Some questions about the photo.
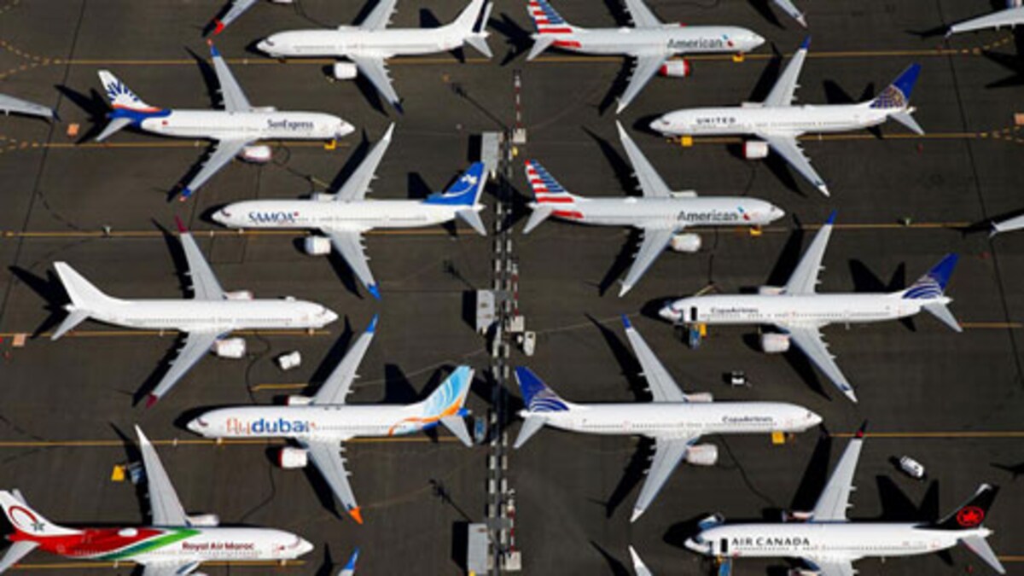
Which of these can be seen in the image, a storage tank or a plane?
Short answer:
plane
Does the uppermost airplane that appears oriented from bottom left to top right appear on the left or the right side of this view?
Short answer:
left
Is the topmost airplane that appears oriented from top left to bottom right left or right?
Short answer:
right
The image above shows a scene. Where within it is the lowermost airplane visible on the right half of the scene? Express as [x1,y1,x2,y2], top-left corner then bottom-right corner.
[631,546,654,576]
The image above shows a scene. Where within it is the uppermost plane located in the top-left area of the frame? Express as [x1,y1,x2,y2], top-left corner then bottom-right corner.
[207,0,251,34]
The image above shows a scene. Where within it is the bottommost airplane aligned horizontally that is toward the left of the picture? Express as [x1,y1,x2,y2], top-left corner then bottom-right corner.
[0,427,314,576]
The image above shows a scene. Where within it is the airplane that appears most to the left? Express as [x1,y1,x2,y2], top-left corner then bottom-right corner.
[0,92,63,118]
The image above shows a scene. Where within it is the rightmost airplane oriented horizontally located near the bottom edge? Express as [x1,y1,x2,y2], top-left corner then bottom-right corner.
[683,422,1003,576]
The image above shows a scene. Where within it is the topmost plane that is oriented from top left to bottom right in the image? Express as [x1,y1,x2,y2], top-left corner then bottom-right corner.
[768,0,806,30]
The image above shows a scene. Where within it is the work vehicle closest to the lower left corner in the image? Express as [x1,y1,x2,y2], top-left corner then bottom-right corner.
[278,351,300,368]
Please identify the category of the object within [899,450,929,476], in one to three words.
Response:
vehicle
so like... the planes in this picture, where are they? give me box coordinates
[659,210,961,404]
[526,122,785,299]
[650,35,924,198]
[257,0,494,115]
[631,546,654,576]
[989,213,1024,235]
[942,0,1024,33]
[683,422,1003,576]
[0,427,314,576]
[528,0,764,114]
[54,217,339,410]
[187,314,473,526]
[0,92,63,118]
[98,40,356,202]
[515,312,821,525]
[768,0,806,30]
[213,125,488,301]
[207,0,251,34]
